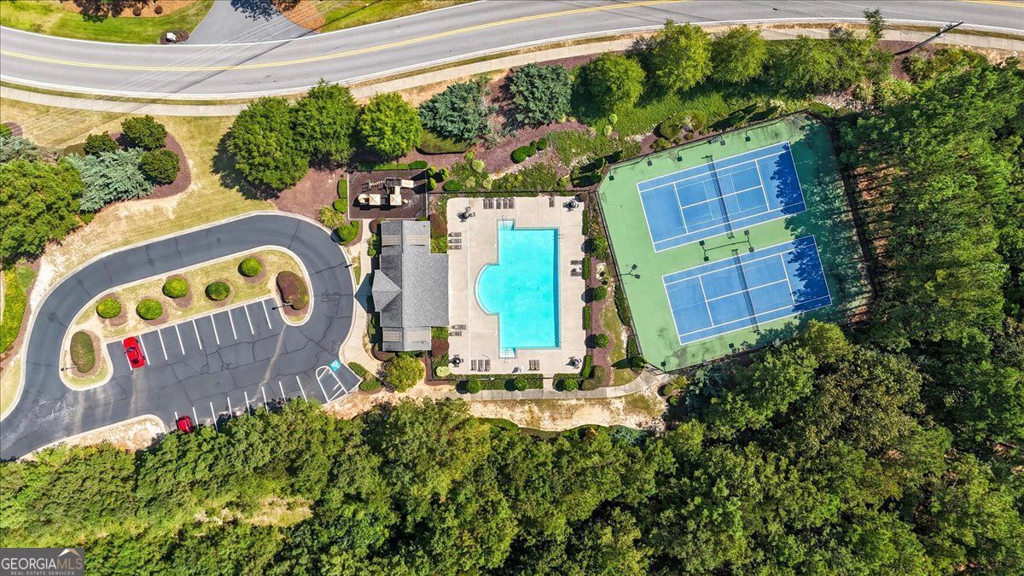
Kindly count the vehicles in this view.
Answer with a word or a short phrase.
two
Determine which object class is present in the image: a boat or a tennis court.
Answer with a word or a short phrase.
tennis court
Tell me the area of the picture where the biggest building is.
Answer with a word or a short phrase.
center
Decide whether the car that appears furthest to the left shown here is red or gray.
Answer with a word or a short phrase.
red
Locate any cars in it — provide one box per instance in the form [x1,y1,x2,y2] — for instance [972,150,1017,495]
[178,415,199,444]
[125,336,146,368]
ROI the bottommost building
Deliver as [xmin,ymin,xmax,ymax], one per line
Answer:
[372,220,450,353]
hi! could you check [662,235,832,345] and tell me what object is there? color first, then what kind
blue tennis court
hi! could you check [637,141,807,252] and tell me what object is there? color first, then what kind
blue tennis court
